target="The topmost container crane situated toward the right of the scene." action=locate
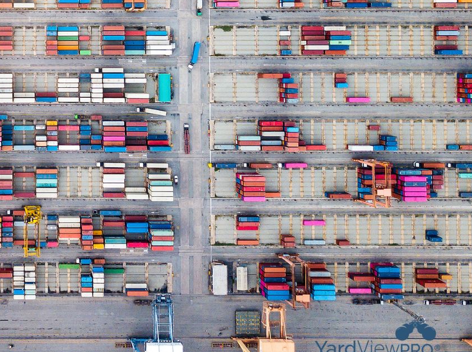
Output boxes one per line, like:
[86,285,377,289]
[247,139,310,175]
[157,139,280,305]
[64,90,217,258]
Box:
[353,158,393,207]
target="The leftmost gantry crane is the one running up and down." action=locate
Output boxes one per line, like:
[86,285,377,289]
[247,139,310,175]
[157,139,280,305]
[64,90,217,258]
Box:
[20,206,44,258]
